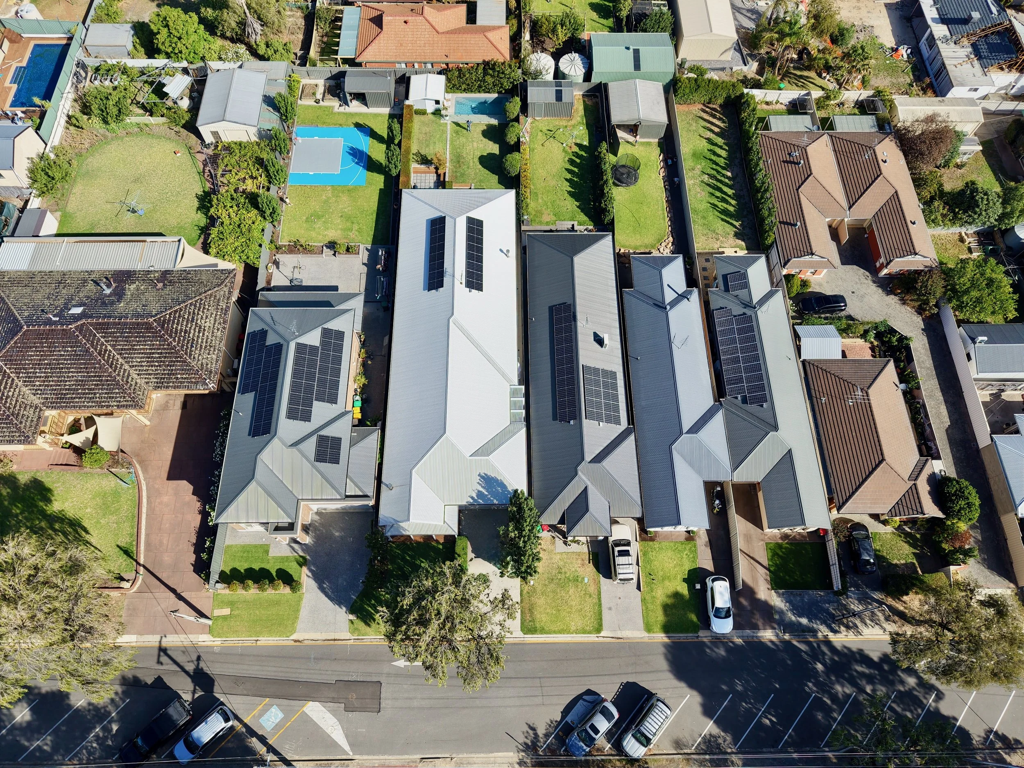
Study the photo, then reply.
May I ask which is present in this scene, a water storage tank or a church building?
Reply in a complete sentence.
I can see a water storage tank in this picture.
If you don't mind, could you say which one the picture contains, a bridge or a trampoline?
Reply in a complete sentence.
It is a trampoline that can be seen here.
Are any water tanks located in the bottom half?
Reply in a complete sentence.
No, no water tank can be made out in the bottom half.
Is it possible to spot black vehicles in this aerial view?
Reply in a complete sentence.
Yes, a black vehicle is visible in the scene.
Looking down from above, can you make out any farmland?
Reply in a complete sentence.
No, no farmland is visible.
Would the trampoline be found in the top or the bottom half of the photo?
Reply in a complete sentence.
The top half of the photo is where the trampoline is.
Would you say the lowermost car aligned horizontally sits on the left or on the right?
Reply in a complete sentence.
You can find the lowermost car aligned horizontally on the right side of the picture.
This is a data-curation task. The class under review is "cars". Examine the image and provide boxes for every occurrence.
[168,700,231,765]
[795,291,848,316]
[703,576,737,635]
[568,695,617,761]
[622,691,673,764]
[121,701,195,768]
[609,523,638,584]
[842,519,883,578]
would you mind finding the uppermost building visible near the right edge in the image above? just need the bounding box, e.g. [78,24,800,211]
[912,0,1024,99]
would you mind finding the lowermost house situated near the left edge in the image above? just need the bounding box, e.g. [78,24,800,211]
[0,267,241,450]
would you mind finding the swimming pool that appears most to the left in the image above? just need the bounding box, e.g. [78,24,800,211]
[4,41,72,110]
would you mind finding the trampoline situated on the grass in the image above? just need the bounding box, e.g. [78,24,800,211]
[611,151,645,194]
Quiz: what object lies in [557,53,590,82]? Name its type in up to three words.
water tank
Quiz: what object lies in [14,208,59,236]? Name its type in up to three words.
shed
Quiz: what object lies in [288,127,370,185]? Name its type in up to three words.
sports court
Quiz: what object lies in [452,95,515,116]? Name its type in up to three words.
swimming pool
